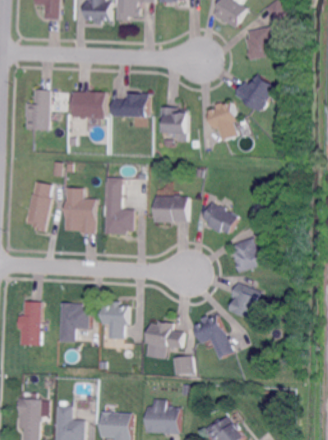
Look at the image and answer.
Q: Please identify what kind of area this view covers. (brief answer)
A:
residential area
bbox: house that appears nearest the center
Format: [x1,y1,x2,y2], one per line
[148,196,188,224]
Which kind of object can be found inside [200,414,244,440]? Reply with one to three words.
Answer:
house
